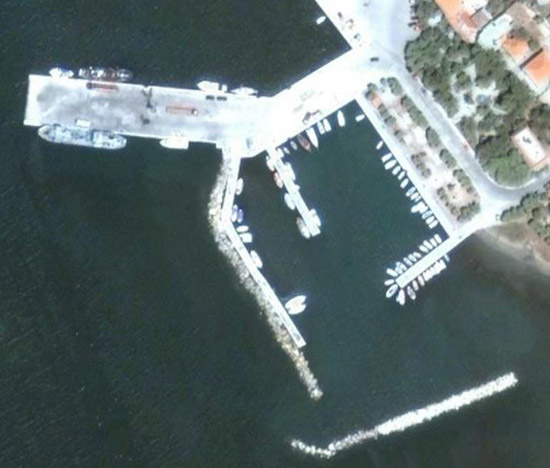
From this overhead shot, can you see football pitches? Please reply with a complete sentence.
No, I find no football pitch anywhere in the image.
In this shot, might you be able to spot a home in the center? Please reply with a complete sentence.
No, no home appears in the center.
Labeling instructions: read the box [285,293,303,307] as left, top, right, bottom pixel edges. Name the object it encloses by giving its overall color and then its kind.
white boat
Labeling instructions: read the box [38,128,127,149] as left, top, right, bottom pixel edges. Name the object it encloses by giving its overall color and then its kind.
white ship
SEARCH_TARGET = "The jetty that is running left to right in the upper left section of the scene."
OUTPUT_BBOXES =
[24,75,258,157]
